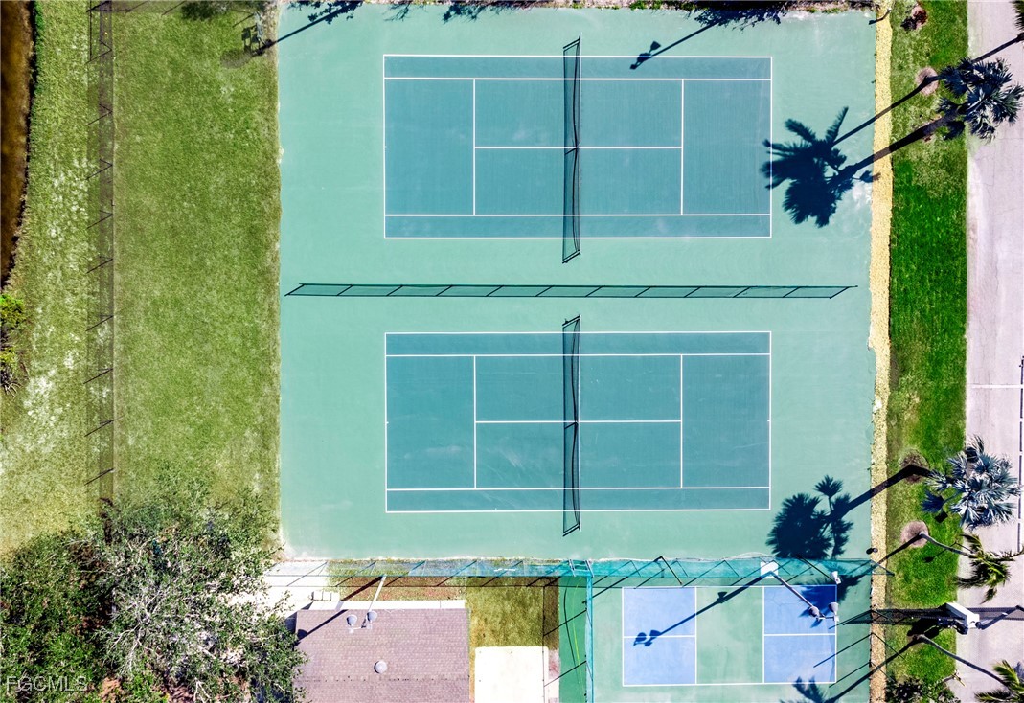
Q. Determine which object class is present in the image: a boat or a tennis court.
tennis court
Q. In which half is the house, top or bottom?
bottom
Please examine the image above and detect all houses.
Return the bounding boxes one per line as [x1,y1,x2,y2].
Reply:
[295,600,469,703]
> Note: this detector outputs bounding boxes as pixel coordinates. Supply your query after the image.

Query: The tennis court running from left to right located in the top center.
[277,7,877,290]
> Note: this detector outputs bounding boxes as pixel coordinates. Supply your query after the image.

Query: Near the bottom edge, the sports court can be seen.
[586,560,871,703]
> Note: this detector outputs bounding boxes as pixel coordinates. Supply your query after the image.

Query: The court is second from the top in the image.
[278,290,876,559]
